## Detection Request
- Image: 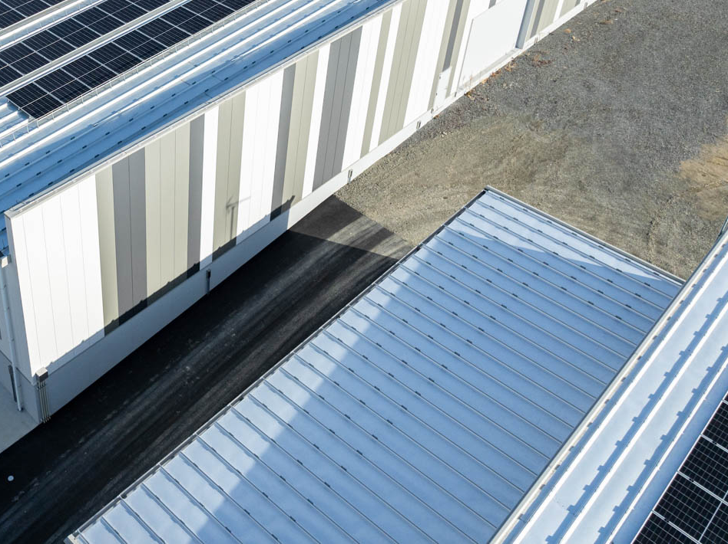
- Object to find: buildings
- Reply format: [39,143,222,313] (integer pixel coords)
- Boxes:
[71,181,687,544]
[0,0,595,424]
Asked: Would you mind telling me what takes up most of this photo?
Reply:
buildings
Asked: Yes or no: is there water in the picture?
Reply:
No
